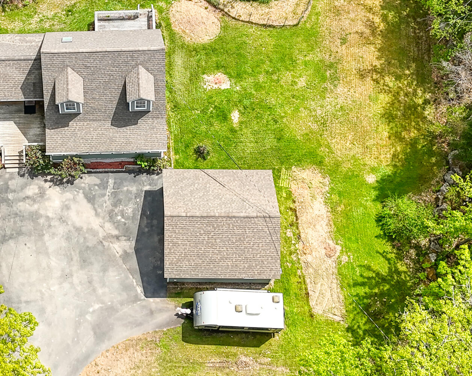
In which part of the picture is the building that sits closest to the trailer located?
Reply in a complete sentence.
The building that sits closest to the trailer appears toward the center of the photo.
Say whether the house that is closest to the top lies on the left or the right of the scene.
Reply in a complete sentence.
The house that is closest to the top appears in the left half of the scene.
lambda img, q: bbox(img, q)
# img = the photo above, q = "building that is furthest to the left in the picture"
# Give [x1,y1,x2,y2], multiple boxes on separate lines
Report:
[0,29,168,163]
